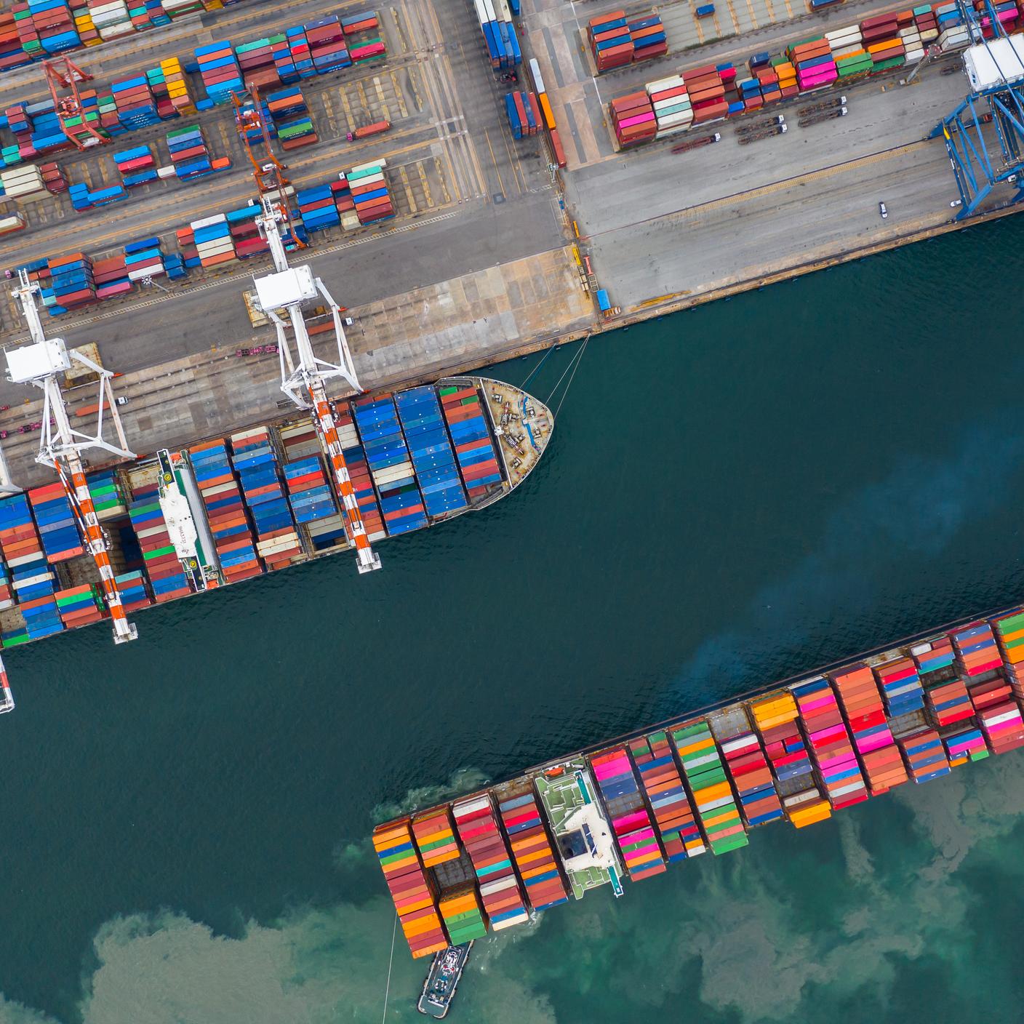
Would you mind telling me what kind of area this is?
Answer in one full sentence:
The picture captures a port.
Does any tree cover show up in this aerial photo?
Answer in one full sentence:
No, there's no tree cover in this view.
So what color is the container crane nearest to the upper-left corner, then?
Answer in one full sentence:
The color of the container crane nearest to the upper-left corner is red.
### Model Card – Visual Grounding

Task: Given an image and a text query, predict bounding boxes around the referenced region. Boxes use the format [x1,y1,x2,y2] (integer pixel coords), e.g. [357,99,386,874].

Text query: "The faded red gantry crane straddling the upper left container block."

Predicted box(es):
[38,50,112,150]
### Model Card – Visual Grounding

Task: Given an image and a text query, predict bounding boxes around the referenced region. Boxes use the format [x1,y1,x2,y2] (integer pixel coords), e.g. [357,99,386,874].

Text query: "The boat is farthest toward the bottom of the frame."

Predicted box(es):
[419,934,473,1022]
